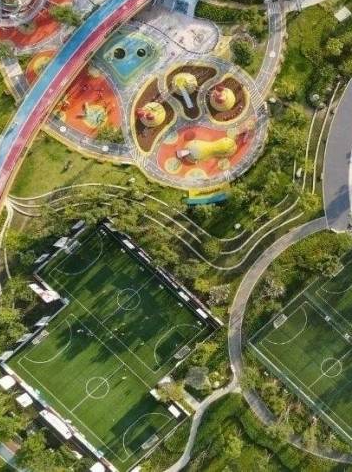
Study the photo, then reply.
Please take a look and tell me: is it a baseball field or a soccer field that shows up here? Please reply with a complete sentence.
Looking from above, you can make out a soccer field.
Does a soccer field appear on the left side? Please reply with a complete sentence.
Yes, looking on the left side, one can make out a soccer field.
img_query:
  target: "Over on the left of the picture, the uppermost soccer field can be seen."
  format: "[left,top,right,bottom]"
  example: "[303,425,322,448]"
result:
[36,221,222,383]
